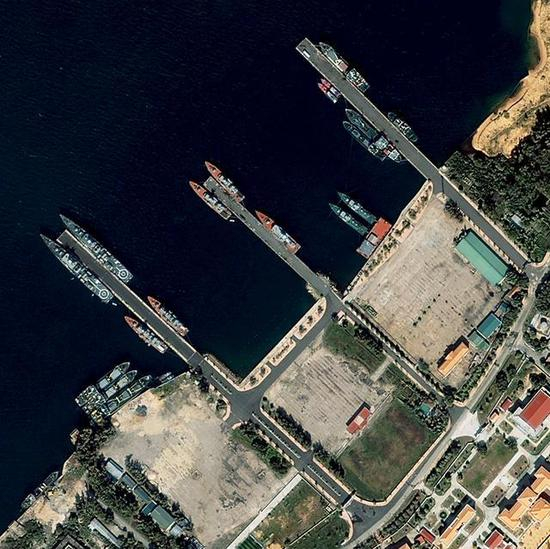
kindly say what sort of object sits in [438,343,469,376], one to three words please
building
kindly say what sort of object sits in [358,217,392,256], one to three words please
pier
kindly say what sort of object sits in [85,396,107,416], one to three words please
ship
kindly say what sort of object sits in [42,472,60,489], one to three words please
boat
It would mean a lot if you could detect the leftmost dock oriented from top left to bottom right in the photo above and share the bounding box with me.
[57,229,204,366]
